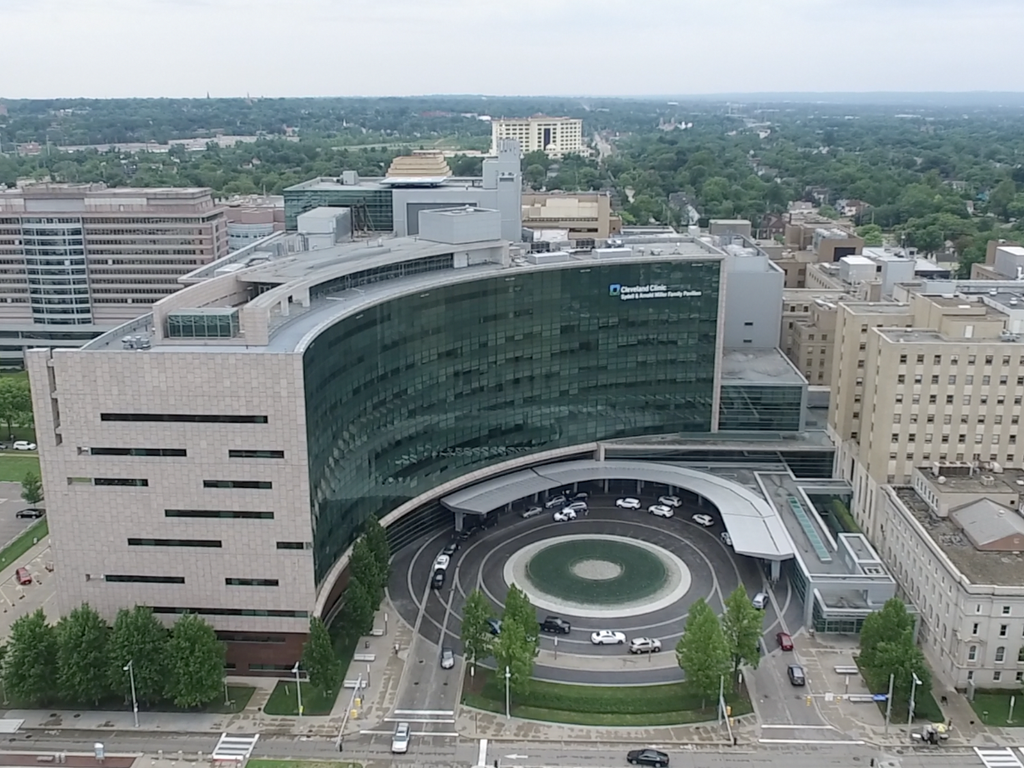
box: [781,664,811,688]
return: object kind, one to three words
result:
car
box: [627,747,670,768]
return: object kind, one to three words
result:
car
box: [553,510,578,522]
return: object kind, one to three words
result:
vehicle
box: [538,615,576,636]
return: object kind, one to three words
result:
truck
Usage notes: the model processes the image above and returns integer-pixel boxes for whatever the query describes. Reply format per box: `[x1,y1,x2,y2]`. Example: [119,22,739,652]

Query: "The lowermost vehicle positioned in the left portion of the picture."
[388,724,414,754]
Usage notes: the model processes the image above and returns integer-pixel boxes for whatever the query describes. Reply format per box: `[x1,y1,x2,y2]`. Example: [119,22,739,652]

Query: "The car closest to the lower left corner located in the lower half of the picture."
[15,568,32,586]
